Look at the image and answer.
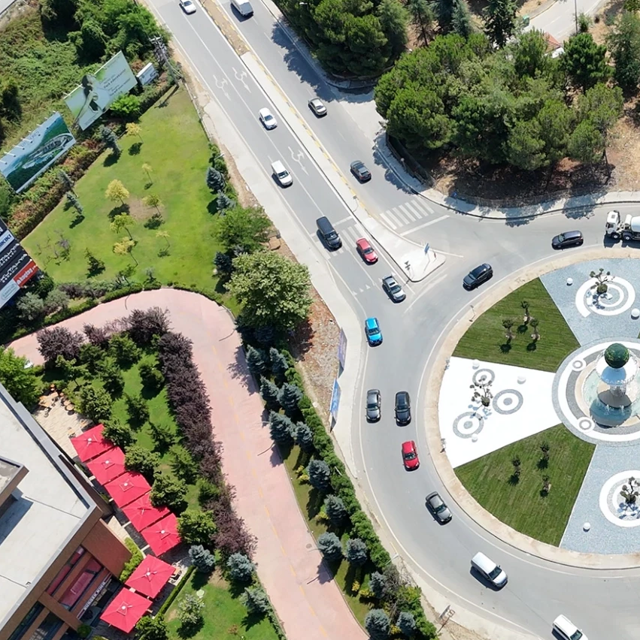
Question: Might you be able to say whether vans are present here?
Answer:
Yes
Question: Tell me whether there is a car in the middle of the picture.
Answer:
Yes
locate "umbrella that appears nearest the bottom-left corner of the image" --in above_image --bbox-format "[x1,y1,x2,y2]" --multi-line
[100,586,152,633]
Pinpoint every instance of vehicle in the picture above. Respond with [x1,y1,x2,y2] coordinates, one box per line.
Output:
[393,390,412,427]
[258,107,278,130]
[364,316,383,349]
[233,0,252,17]
[462,262,495,290]
[354,237,378,265]
[364,389,382,425]
[270,159,293,187]
[548,613,590,640]
[180,0,195,12]
[351,162,371,184]
[400,438,421,473]
[315,215,343,249]
[379,274,407,303]
[551,230,584,250]
[308,98,328,118]
[421,489,456,528]
[466,547,512,592]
